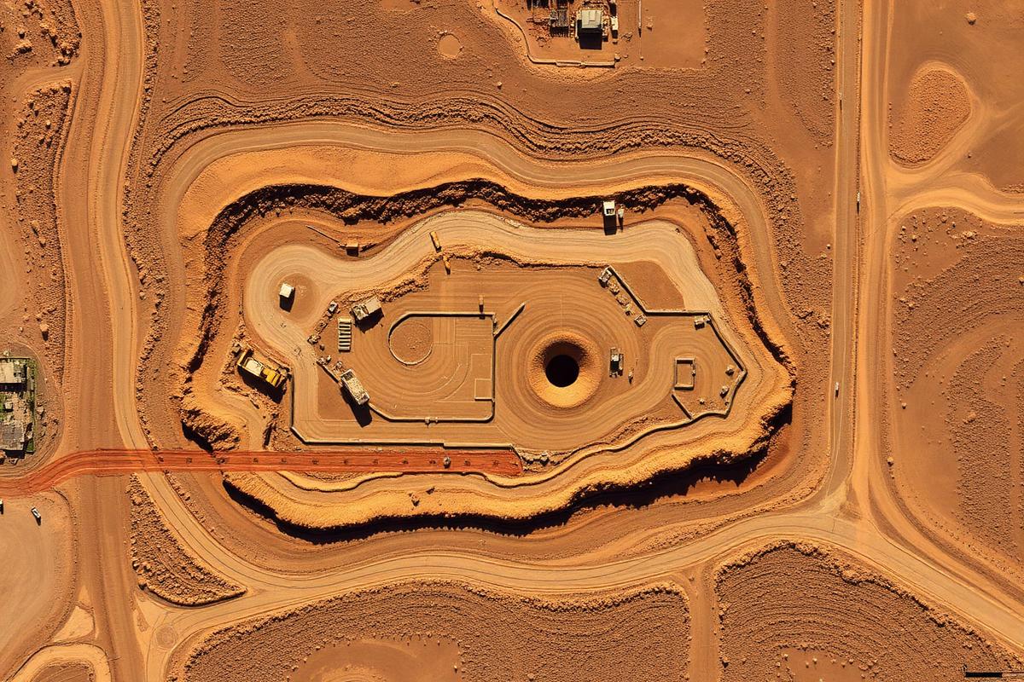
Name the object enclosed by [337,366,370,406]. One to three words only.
truck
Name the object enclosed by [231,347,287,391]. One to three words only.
truck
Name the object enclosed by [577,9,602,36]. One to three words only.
shed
